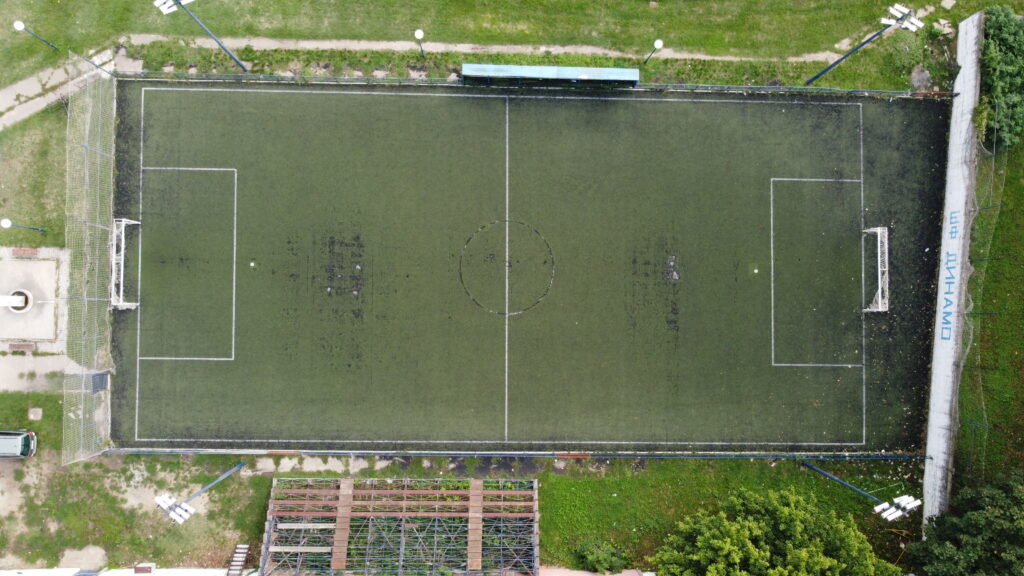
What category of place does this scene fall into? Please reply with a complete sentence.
The area seen from above is a sports ground.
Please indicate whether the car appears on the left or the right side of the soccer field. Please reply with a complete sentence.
Compared with the soccer field, the car is located further to the left.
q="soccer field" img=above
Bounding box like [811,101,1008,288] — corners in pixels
[110,83,954,453]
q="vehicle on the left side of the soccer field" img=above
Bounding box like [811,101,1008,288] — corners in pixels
[0,430,39,457]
